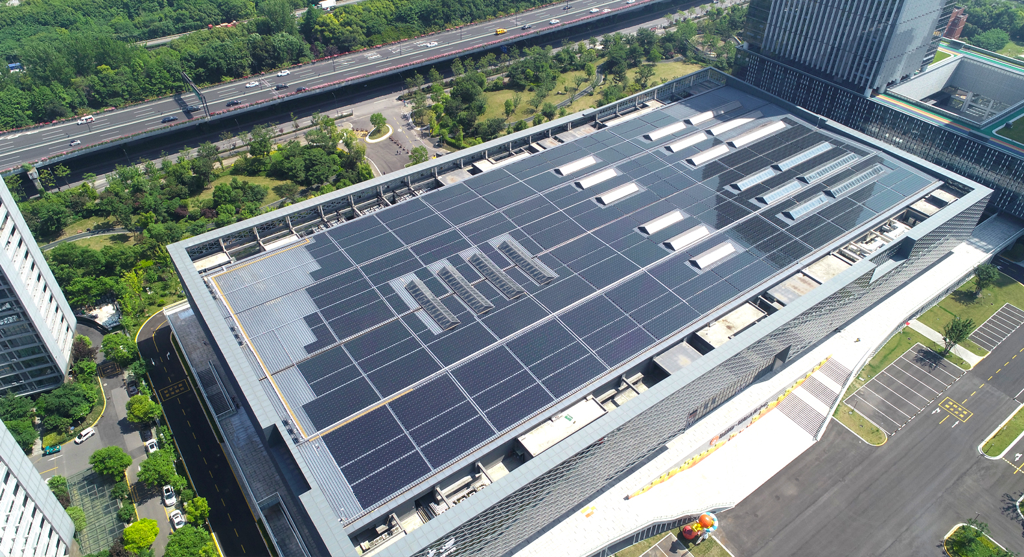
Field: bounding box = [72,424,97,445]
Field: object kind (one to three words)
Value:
car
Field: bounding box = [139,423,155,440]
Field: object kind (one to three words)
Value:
car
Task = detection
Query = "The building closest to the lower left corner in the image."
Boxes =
[0,425,73,557]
